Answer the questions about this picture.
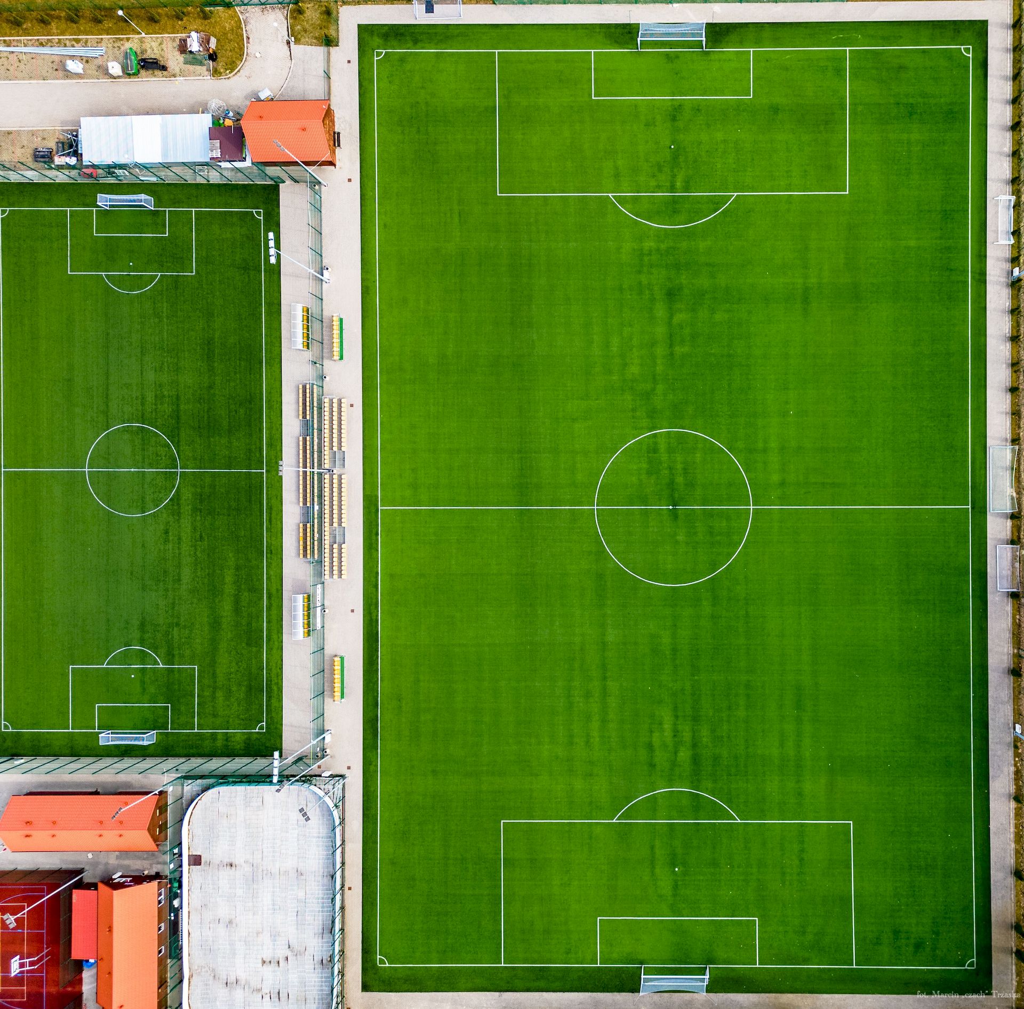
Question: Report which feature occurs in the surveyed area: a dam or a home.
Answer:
home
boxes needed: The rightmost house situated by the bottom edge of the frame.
[96,874,170,1009]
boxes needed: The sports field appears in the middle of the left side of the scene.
[0,184,283,757]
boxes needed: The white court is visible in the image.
[181,779,345,1009]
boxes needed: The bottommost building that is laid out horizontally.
[0,788,169,852]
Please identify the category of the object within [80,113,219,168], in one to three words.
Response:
shed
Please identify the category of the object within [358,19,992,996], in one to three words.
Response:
sports field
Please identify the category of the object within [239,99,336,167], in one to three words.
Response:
house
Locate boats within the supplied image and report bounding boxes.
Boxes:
[123,48,137,73]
